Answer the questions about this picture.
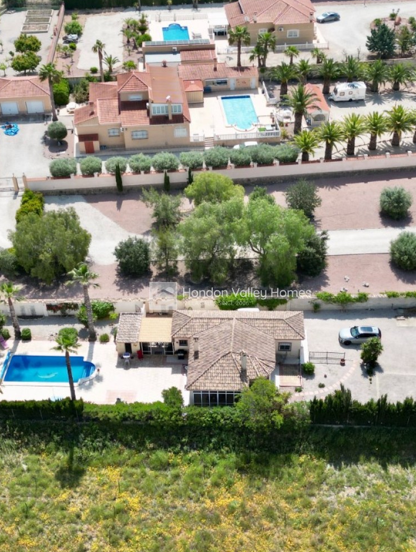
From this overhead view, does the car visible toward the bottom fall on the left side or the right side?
right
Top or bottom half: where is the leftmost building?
top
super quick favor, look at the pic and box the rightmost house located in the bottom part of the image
[171,310,305,406]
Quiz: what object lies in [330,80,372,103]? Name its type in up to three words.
camper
